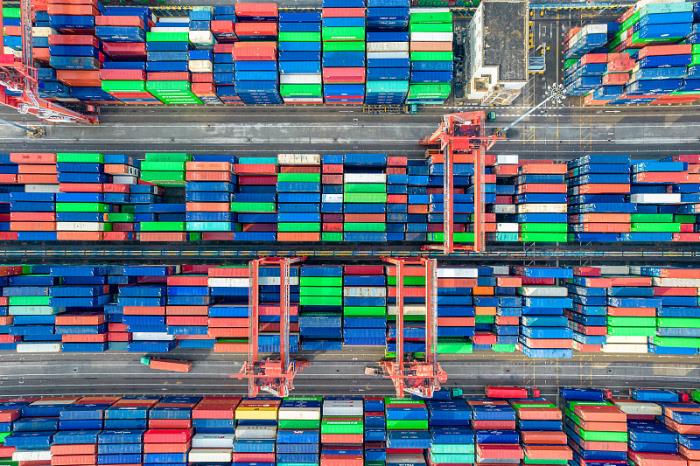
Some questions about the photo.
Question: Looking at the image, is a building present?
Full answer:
Yes, this view includes a building.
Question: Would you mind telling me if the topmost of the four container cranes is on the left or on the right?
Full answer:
The topmost of the four container cranes appears in the left half of the scene.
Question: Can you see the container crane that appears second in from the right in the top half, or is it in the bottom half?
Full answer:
Seen from above, the container crane that appears second in from the right lies in the bottom half of the view.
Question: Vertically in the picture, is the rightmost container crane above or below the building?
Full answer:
In the image, the rightmost container crane appears below the building.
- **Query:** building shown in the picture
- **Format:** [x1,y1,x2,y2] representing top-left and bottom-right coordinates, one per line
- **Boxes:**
[468,1,528,105]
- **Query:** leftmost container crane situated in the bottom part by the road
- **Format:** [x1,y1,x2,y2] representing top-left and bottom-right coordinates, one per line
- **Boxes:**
[230,258,313,400]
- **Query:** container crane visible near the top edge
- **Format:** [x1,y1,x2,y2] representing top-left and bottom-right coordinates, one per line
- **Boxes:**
[0,0,96,126]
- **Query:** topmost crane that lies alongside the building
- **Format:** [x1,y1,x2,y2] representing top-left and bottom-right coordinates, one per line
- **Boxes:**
[414,103,497,251]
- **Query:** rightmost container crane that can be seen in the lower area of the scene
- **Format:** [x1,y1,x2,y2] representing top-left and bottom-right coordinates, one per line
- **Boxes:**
[372,258,446,400]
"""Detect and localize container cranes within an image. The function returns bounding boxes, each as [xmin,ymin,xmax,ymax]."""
[230,258,313,400]
[414,103,497,251]
[372,258,446,400]
[0,0,96,126]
